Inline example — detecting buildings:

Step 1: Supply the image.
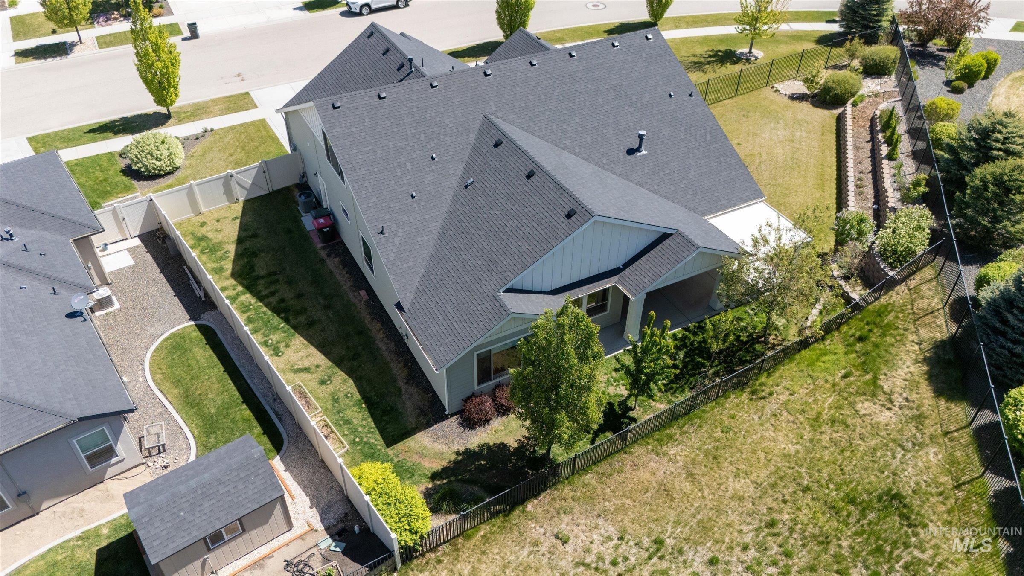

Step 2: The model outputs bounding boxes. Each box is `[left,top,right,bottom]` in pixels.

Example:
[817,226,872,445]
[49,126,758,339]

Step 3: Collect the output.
[122,431,292,576]
[273,21,768,418]
[0,149,147,531]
